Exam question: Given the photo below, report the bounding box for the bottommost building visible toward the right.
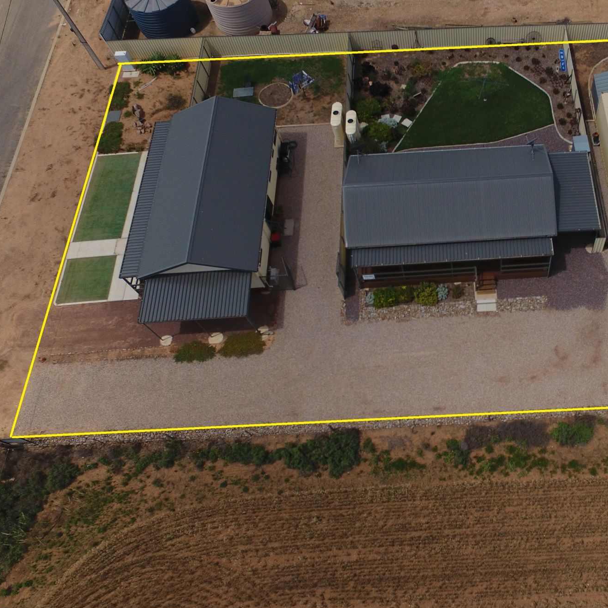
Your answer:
[343,143,603,311]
